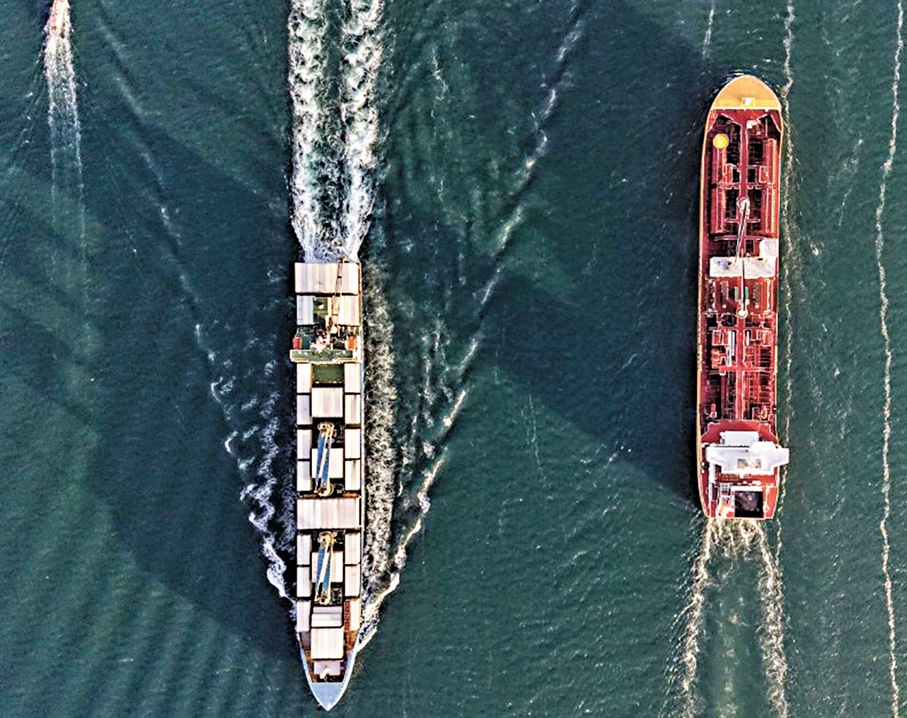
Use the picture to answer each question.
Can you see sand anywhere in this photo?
No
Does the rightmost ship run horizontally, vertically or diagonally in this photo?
vertically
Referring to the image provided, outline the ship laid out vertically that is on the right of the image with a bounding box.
[697,74,789,518]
